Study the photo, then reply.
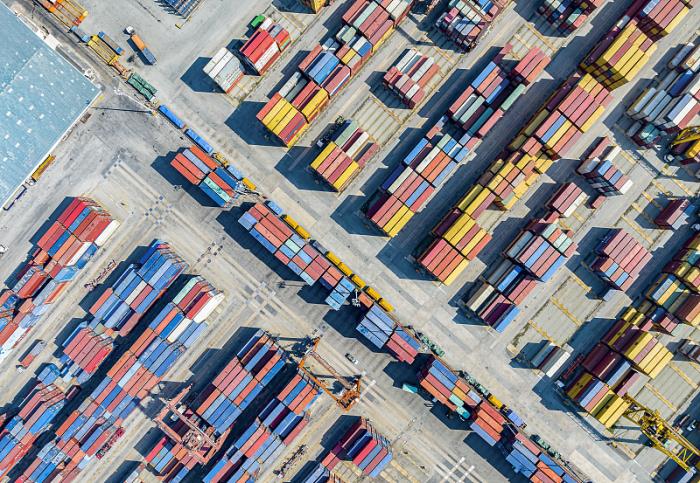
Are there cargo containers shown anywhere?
Yes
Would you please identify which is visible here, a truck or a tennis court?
truck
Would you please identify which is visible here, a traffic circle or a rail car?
rail car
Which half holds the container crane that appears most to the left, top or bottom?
bottom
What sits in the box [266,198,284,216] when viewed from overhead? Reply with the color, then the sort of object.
blue rail car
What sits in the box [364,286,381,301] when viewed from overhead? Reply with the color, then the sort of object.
yellow rail car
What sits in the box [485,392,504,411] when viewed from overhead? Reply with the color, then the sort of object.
yellow rail car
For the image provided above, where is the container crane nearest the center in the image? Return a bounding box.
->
[291,334,360,409]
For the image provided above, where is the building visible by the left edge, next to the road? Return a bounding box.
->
[0,0,107,214]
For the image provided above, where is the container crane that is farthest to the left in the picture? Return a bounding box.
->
[149,383,234,468]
